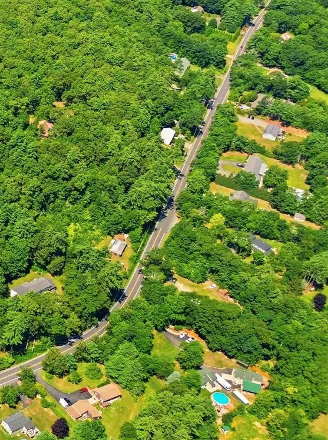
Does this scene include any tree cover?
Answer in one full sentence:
Yes, the picture does contain tree cover.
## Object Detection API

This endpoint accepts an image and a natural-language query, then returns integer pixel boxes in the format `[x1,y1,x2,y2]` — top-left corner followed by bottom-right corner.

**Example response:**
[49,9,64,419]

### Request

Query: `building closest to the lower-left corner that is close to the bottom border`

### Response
[1,411,33,437]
